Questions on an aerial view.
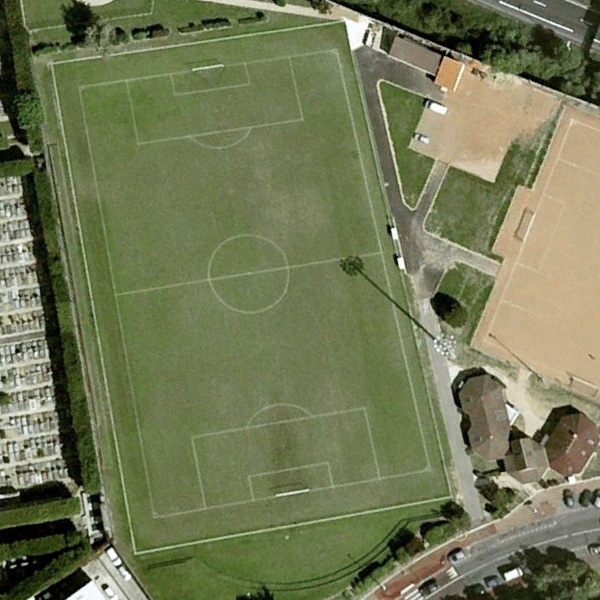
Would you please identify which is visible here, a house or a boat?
house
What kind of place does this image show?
sports ground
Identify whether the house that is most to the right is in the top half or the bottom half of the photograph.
bottom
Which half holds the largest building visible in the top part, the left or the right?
right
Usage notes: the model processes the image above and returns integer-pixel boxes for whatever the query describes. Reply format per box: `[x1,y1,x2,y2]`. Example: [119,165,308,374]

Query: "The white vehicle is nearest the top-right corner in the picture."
[424,100,447,114]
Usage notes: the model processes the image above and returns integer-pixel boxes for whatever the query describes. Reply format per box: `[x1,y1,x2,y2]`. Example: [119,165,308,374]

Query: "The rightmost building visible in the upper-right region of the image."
[436,56,466,91]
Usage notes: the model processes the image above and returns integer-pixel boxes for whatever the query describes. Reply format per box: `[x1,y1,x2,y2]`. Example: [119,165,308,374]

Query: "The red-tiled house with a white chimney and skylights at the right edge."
[545,412,600,476]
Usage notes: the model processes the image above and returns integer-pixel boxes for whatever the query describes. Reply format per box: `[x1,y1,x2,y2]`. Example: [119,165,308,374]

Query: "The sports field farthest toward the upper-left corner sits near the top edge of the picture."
[22,0,156,32]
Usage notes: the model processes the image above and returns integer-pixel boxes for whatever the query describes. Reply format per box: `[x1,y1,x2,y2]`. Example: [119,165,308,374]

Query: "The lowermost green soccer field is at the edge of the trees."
[48,24,450,554]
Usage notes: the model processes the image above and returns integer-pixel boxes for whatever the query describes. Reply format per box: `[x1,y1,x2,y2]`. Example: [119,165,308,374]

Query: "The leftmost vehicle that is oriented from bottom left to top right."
[421,580,439,595]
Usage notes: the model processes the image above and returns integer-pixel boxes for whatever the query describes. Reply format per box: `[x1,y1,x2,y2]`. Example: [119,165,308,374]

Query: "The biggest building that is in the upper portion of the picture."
[390,36,444,76]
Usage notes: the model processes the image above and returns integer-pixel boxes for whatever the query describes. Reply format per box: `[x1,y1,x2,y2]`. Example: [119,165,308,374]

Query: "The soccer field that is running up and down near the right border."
[470,104,600,401]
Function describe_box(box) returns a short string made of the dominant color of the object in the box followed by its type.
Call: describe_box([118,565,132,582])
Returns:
white car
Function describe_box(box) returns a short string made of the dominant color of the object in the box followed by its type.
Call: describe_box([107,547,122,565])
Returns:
white vehicle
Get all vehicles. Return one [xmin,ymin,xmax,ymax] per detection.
[564,489,575,509]
[448,551,466,564]
[594,489,600,509]
[118,565,132,582]
[104,586,118,600]
[414,133,431,145]
[487,575,505,588]
[581,488,591,507]
[503,568,521,582]
[421,580,439,595]
[424,100,447,114]
[107,547,122,565]
[588,546,600,555]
